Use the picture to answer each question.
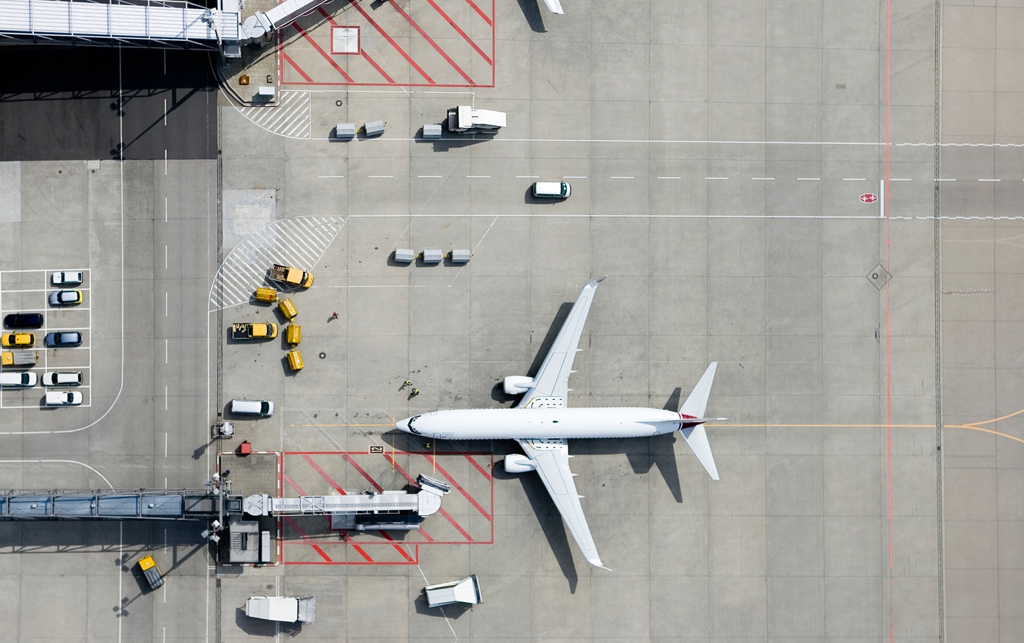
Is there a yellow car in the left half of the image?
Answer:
Yes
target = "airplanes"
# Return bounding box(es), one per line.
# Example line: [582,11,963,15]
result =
[544,0,563,14]
[396,275,726,571]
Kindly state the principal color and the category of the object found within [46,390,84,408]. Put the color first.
white vehicle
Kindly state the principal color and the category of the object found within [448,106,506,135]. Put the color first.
white truck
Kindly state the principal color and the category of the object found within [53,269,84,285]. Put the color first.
white car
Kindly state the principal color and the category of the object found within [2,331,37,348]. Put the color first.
yellow car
